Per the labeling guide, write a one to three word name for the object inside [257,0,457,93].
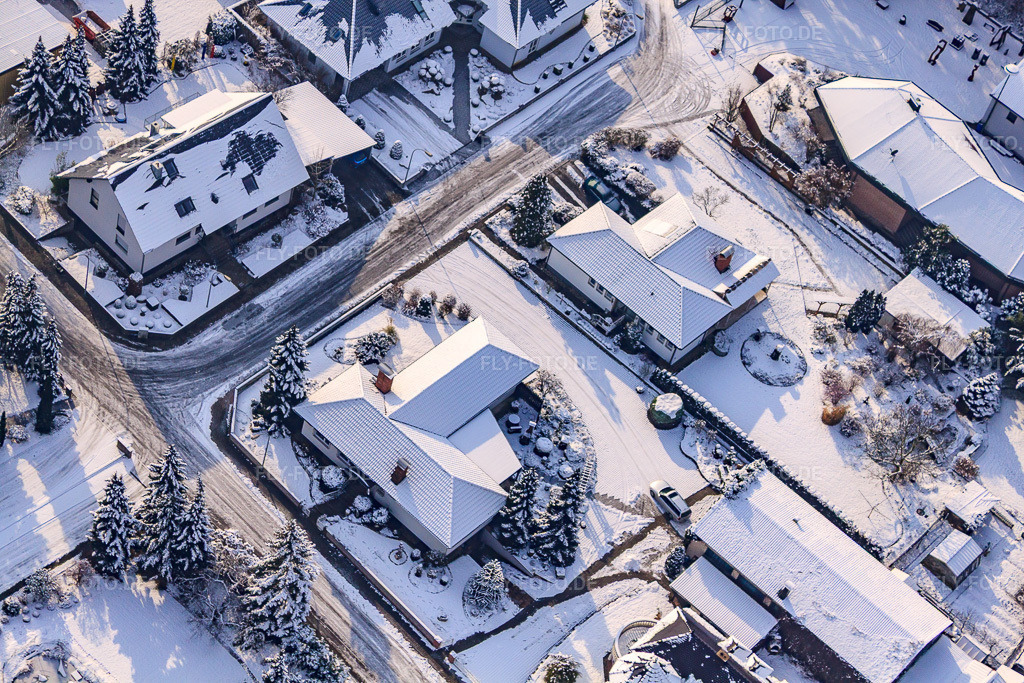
house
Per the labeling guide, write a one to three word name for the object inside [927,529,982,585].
shed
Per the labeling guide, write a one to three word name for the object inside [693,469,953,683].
building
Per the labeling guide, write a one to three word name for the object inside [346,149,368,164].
car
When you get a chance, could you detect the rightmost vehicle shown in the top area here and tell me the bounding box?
[587,175,624,211]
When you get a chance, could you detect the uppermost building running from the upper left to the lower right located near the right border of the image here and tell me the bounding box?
[815,76,1024,302]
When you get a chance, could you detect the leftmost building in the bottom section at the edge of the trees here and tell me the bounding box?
[294,316,538,554]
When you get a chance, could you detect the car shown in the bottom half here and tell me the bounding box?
[650,474,693,520]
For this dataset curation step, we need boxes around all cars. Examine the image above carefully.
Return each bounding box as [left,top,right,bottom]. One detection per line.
[587,175,624,211]
[650,474,693,520]
[346,149,368,164]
